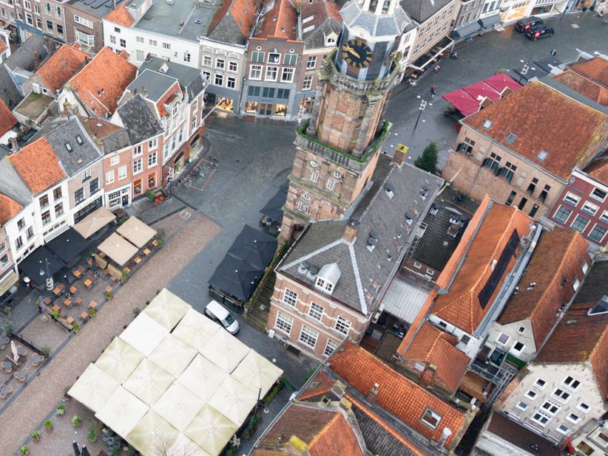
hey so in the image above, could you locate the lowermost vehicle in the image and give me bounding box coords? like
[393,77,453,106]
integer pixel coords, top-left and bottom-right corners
[203,293,245,336]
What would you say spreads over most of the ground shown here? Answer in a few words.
buildings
